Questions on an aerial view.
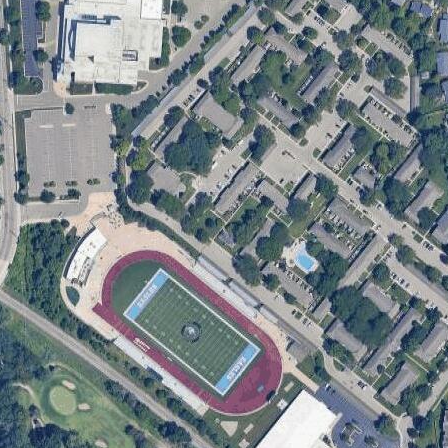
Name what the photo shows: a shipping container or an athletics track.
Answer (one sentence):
The one in the frame is an athletics track.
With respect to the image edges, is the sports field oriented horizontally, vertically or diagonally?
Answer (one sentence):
The sports field has been laid out diagonally relative to the frame.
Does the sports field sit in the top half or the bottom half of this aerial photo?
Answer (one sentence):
You can find the sports field in the bottom half.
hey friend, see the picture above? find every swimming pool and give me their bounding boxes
[282,239,321,271]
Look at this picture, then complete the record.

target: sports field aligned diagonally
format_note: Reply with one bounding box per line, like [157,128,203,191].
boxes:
[111,259,268,402]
